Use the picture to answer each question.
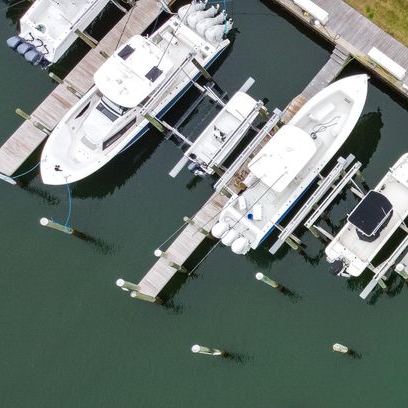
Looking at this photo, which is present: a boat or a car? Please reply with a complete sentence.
Of the two, only a boat appears.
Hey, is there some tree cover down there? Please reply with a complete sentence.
No, tree cover can't be seen anywhere here.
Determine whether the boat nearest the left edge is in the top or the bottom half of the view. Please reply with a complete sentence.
The boat nearest the left edge sits in the top half of the picture.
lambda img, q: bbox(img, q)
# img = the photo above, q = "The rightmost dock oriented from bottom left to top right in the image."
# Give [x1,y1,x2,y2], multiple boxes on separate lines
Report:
[117,39,355,302]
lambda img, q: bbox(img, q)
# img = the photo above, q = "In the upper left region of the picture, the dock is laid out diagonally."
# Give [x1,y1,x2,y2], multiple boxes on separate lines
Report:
[0,0,176,175]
